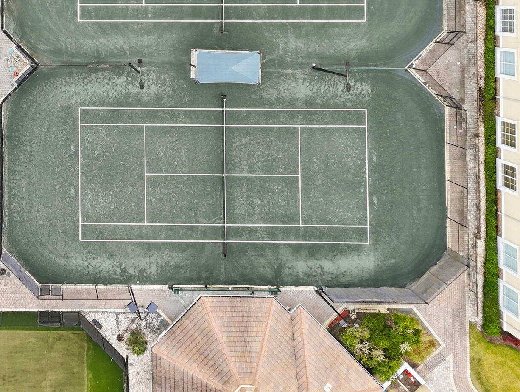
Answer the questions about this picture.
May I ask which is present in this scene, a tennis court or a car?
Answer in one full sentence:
It is a tennis court that can be seen here.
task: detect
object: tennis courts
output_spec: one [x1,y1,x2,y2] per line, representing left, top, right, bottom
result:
[5,0,444,66]
[3,66,446,288]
